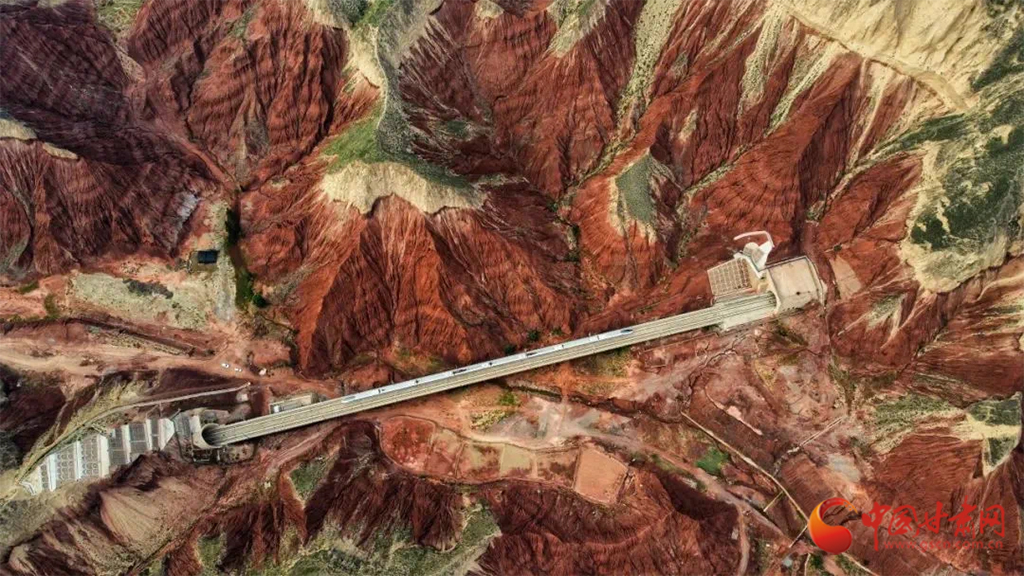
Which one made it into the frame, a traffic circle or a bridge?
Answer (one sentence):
This aerial view contains a bridge.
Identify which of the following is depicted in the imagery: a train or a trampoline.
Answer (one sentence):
This aerial view contains a train.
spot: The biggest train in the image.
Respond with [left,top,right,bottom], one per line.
[342,331,635,403]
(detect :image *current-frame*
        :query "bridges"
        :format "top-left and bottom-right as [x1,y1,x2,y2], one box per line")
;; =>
[204,290,779,446]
